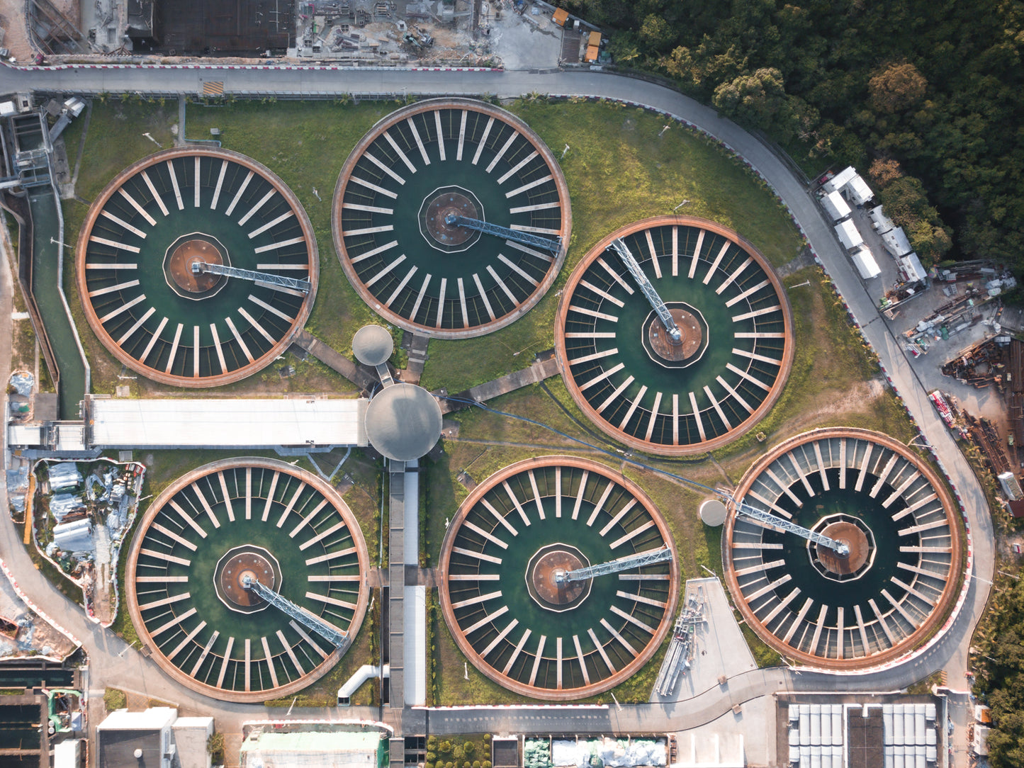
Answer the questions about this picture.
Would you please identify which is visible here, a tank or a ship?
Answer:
tank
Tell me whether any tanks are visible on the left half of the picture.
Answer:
Yes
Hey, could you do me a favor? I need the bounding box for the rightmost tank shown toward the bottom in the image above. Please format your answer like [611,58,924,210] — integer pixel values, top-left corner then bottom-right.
[721,426,967,671]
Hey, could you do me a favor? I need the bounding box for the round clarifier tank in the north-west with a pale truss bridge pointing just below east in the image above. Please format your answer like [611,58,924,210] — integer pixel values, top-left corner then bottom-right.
[75,146,318,388]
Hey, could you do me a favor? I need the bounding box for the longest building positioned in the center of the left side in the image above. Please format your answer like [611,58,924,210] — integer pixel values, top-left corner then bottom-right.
[86,395,372,448]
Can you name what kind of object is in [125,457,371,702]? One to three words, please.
storage tank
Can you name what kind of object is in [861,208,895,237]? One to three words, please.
building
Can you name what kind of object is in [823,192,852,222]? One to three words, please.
building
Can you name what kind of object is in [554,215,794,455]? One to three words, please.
storage tank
